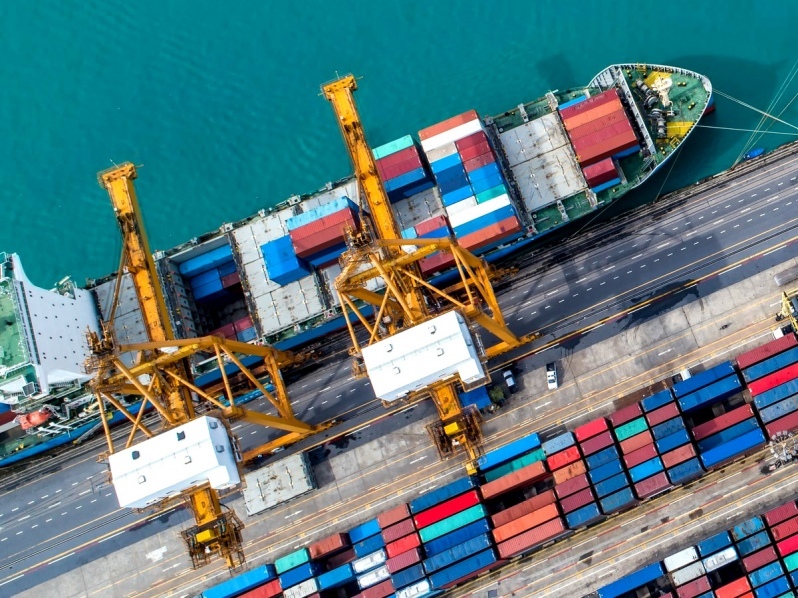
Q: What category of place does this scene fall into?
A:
port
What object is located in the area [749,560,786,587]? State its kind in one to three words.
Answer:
shipping container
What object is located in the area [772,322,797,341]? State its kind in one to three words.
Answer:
vehicle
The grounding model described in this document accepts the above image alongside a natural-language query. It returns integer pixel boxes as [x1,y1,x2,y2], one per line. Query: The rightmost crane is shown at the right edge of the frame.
[773,284,798,337]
